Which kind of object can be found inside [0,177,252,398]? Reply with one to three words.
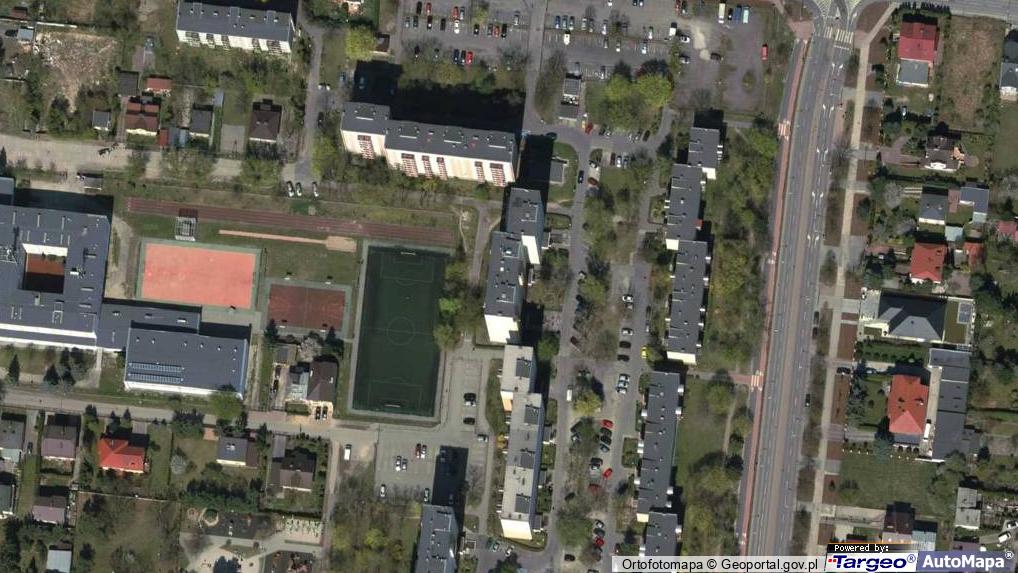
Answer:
building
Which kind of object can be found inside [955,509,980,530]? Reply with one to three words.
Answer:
shed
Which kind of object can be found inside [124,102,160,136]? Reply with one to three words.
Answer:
house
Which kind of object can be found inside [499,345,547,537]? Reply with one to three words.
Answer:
building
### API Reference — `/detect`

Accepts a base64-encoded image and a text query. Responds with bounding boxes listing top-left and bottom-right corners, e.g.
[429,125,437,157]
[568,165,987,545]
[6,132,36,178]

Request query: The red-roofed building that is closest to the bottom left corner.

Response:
[98,438,130,473]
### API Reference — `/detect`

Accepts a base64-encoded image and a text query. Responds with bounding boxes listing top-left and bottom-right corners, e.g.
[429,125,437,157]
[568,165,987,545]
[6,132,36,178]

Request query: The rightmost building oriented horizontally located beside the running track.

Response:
[341,101,519,183]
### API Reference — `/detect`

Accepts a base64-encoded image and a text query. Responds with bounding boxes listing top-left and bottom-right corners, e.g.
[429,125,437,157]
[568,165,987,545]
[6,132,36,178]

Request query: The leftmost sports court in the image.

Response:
[136,239,262,312]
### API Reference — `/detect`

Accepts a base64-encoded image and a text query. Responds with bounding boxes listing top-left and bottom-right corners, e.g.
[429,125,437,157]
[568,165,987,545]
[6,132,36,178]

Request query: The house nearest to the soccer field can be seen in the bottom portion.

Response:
[306,361,338,404]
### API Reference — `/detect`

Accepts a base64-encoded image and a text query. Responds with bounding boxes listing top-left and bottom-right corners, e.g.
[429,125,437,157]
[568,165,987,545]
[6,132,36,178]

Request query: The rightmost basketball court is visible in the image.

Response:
[262,278,353,340]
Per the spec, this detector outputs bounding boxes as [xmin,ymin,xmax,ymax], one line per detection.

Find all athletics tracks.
[128,197,454,247]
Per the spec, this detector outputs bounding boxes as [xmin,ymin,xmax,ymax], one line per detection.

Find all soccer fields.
[347,240,452,425]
